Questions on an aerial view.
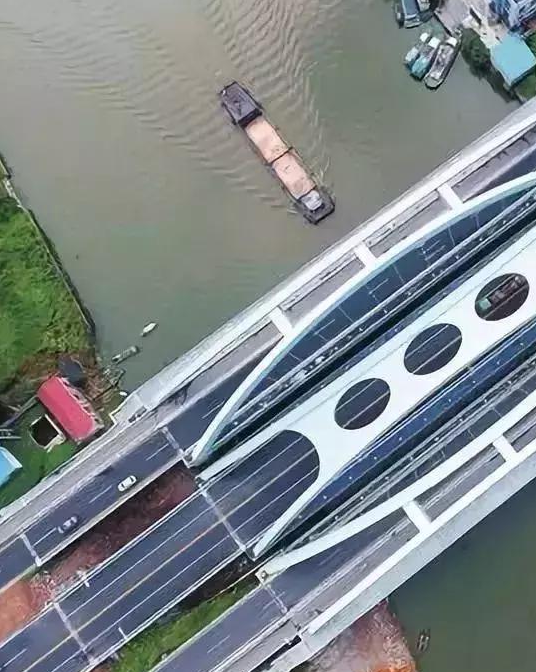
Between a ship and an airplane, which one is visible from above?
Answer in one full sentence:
There is a ship in the scene.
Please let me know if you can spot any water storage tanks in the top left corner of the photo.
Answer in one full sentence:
No, I can find no water storage tank in the top left corner of the photo.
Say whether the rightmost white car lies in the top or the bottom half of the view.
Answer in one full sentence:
Seen from above, the rightmost white car lies in the bottom half of the view.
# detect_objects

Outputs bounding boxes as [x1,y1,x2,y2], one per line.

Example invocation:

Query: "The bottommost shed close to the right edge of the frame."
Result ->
[491,32,536,93]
